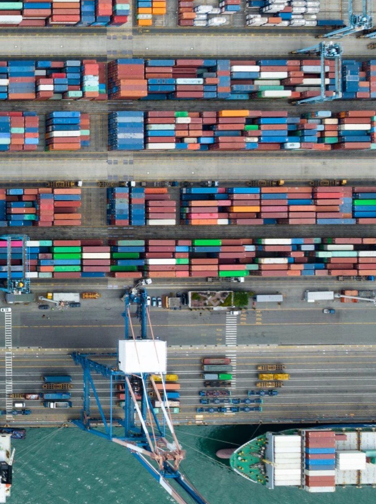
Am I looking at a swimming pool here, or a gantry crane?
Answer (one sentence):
Of the two, only a gantry crane appears.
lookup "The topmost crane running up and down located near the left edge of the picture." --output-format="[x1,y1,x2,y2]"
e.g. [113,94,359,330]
[0,233,28,294]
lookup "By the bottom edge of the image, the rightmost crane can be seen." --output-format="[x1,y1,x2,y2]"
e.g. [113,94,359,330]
[73,302,202,504]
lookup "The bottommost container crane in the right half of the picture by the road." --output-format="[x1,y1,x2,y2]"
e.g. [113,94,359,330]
[286,44,344,110]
